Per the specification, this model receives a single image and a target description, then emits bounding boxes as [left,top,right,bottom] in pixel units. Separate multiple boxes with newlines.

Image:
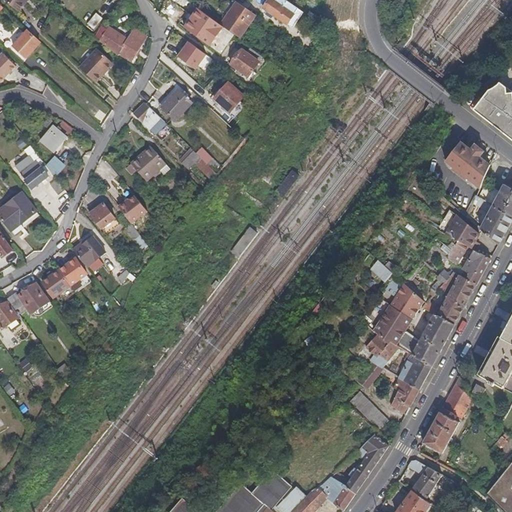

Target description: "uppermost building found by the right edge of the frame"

[473,82,512,140]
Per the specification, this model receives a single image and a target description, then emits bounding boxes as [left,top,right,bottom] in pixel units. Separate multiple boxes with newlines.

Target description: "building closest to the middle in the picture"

[232,227,258,256]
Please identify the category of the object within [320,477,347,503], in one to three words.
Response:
building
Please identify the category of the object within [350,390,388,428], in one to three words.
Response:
building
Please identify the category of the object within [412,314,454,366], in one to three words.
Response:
house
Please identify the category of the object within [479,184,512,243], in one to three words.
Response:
house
